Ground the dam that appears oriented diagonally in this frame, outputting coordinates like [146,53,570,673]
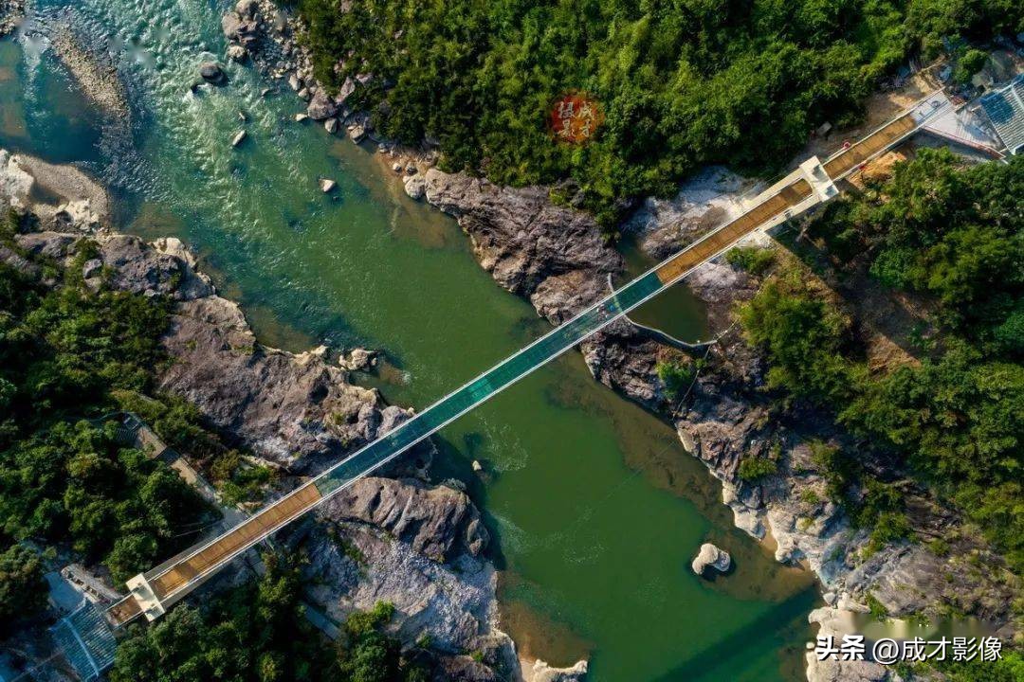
[607,272,719,347]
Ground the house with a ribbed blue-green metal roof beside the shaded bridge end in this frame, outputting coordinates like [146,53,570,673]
[46,598,131,682]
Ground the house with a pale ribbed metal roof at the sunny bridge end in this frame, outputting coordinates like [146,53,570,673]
[969,74,1024,163]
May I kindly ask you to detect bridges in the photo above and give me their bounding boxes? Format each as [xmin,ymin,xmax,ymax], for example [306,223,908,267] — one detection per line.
[102,85,962,631]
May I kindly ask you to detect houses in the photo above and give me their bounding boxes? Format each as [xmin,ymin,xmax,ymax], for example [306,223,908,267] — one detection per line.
[46,598,131,682]
[969,74,1024,163]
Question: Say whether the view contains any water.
Yes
